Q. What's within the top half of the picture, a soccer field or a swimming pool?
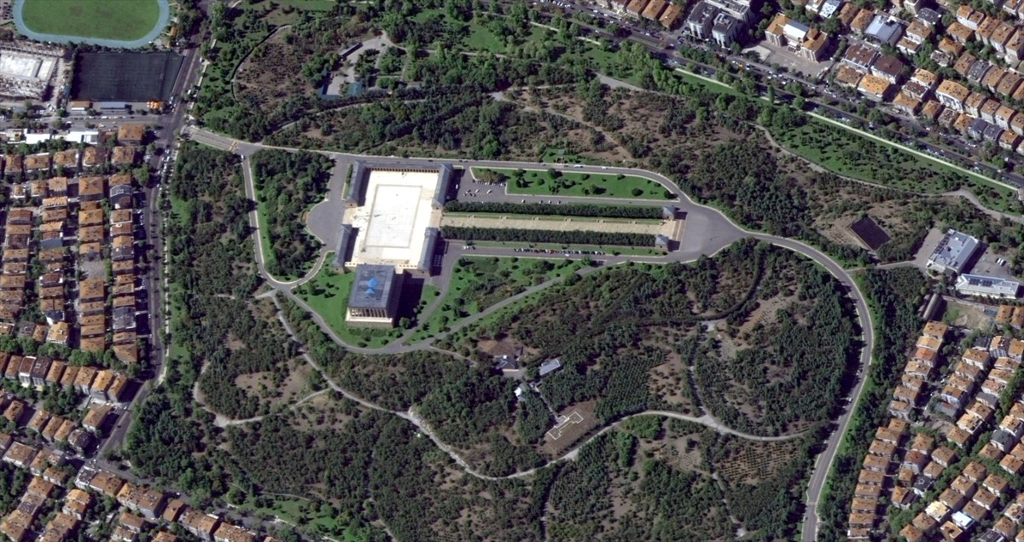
soccer field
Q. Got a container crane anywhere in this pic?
No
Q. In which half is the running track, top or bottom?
top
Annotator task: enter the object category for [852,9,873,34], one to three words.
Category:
building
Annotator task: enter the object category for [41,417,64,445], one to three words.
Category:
building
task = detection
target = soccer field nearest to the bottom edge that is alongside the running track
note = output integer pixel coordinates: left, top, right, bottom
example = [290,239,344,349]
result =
[71,53,183,101]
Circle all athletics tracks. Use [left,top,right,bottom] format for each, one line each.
[13,0,169,47]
